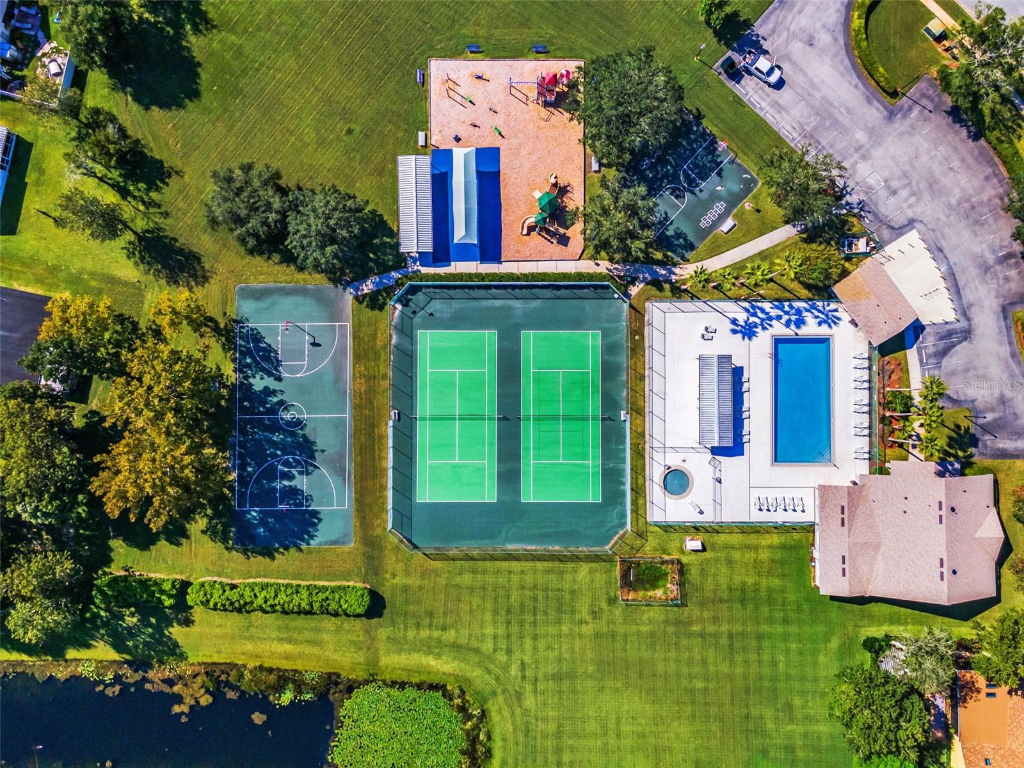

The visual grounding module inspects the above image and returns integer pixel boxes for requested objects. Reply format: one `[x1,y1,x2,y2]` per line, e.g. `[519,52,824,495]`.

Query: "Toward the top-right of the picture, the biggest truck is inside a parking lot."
[742,48,785,87]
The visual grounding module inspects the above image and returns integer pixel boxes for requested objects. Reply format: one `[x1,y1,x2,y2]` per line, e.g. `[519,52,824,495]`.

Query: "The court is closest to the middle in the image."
[392,286,628,548]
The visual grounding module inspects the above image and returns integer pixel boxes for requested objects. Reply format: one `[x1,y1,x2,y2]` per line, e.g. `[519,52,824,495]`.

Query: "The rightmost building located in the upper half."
[832,257,917,346]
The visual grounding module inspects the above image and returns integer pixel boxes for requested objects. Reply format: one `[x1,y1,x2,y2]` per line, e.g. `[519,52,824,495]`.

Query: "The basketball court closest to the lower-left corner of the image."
[235,285,353,547]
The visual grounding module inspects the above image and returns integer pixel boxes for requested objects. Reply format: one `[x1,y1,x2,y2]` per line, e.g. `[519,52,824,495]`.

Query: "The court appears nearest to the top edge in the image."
[617,111,760,260]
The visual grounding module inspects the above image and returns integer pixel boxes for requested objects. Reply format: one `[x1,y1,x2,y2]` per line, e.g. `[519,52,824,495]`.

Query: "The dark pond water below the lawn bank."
[0,664,486,768]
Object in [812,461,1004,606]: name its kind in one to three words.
building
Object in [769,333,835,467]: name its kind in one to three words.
swimming pool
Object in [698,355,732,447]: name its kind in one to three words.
building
